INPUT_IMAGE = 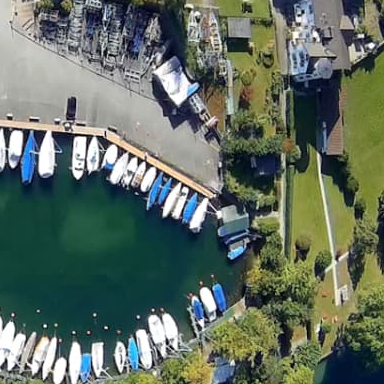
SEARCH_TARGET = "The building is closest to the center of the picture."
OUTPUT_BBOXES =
[219,205,249,232]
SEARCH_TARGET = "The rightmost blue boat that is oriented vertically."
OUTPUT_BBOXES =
[213,284,226,312]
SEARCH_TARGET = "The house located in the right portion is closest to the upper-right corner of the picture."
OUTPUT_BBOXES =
[285,0,383,83]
